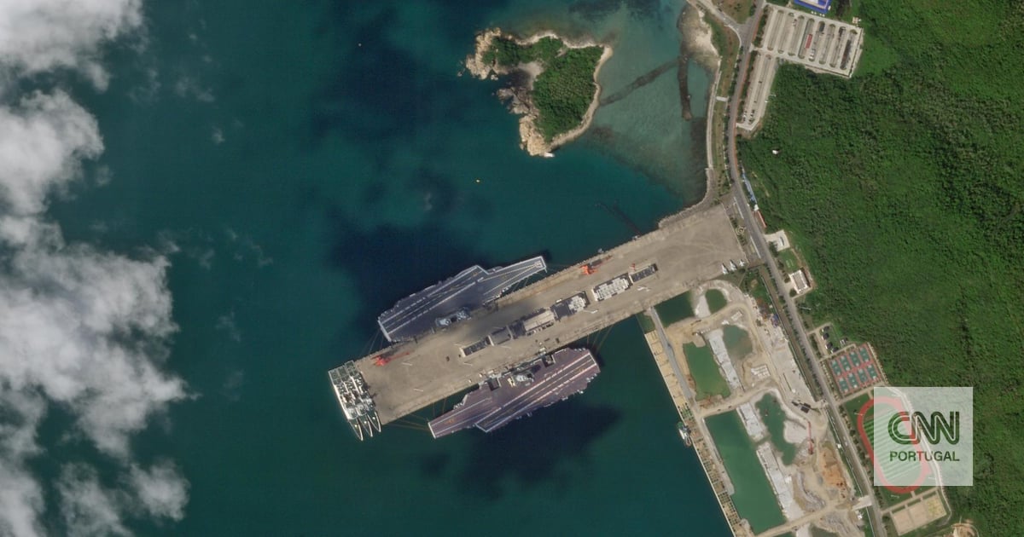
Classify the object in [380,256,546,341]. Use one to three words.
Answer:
ship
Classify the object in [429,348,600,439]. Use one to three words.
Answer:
ship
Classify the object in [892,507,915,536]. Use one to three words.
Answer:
sports court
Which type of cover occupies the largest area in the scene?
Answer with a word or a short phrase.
water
